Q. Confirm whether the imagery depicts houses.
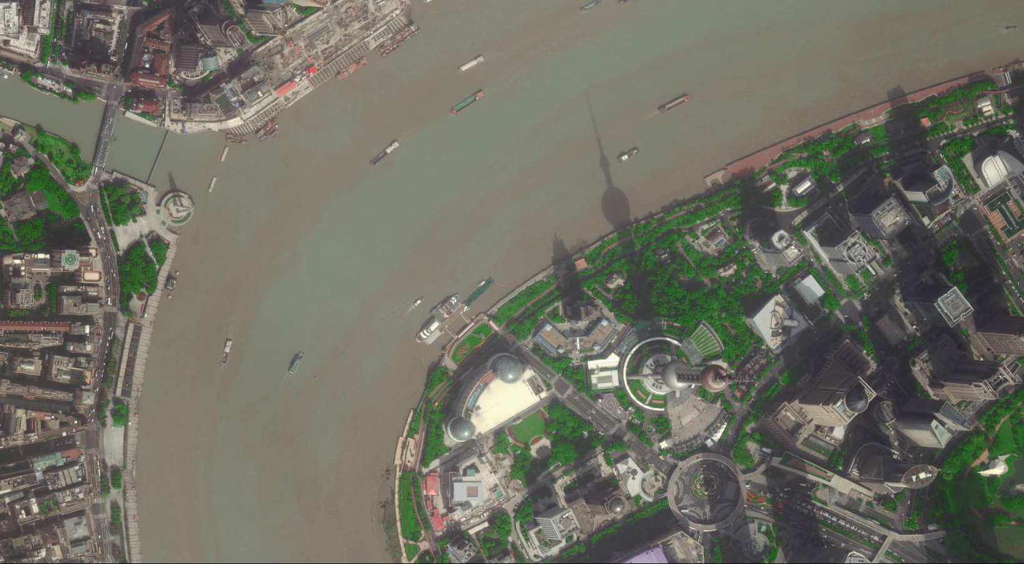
Yes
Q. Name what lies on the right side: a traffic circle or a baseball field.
traffic circle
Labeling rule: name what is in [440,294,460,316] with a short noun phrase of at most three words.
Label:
ship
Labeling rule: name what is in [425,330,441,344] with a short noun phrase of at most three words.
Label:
ship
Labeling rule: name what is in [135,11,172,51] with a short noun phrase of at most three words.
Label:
building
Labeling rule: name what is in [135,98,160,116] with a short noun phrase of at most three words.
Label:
house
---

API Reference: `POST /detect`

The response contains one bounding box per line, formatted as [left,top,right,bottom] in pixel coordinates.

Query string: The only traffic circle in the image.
[675,460,738,524]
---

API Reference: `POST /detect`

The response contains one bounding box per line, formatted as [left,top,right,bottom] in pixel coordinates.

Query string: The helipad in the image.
[62,250,79,268]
